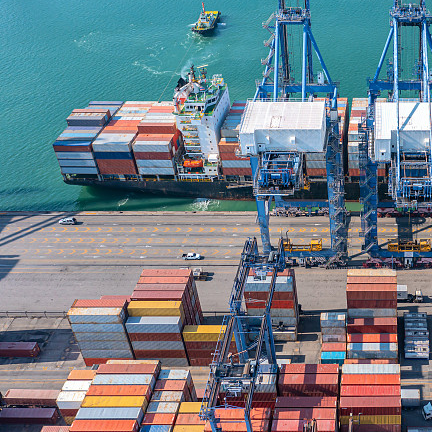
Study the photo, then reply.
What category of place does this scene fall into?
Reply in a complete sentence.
It's a port.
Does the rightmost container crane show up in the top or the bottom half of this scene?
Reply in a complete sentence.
The top half of the photo is where the rightmost container crane is.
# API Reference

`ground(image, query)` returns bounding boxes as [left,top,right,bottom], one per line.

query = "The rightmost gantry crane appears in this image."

[358,0,432,266]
